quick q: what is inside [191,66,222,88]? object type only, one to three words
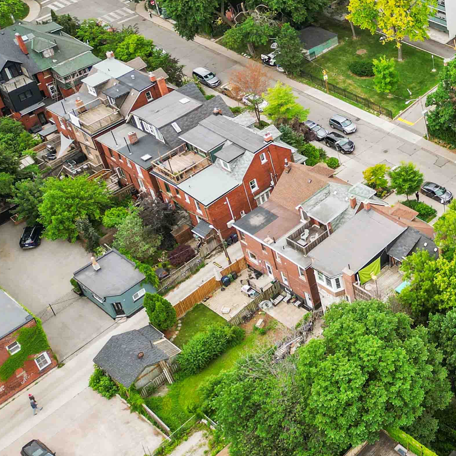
car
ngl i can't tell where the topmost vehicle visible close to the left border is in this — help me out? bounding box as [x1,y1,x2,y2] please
[14,219,50,254]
